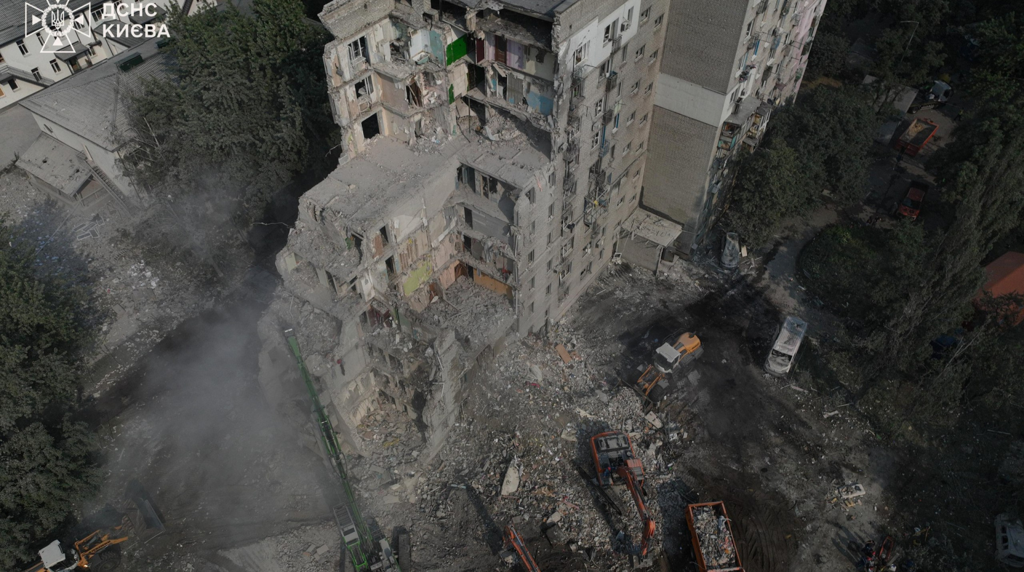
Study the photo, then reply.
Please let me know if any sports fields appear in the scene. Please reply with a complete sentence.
No, this view has no sports field in it.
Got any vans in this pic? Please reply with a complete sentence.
Yes, the image includes a van.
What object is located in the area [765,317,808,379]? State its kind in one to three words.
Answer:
van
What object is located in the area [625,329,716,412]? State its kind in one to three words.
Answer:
work vehicle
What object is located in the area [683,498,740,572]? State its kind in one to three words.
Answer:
truck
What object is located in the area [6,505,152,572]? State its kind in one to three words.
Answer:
work vehicle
